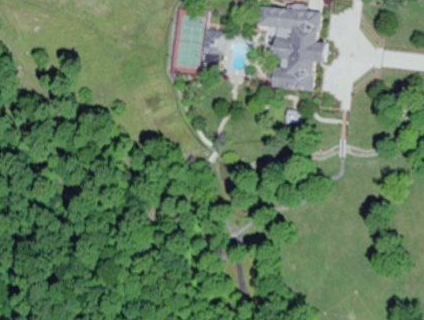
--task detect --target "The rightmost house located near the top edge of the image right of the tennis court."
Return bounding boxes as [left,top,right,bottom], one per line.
[258,3,334,92]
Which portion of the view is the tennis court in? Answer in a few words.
top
